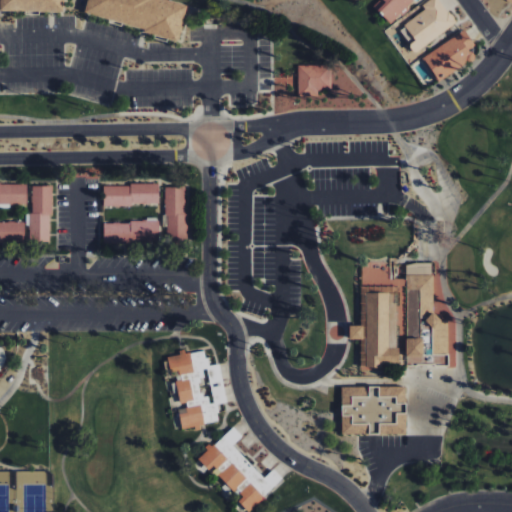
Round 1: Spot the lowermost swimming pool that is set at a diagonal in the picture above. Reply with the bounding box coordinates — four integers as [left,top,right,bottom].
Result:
[412,60,434,84]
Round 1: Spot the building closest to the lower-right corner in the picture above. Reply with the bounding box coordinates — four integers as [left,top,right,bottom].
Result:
[342,386,408,436]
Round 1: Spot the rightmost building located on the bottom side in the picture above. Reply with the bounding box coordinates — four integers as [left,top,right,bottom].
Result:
[406,263,450,366]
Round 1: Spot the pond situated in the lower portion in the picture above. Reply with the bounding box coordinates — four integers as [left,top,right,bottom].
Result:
[474,306,512,386]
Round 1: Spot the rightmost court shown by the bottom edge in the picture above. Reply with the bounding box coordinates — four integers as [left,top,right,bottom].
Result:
[16,471,52,512]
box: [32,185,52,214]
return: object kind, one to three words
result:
building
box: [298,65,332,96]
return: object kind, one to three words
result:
house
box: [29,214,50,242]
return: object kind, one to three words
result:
building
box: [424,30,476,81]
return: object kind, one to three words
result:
house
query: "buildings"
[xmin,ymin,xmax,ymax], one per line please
[0,222,24,243]
[168,214,188,240]
[84,0,187,42]
[103,223,130,242]
[130,183,160,206]
[198,426,284,512]
[32,185,52,214]
[29,214,50,242]
[168,350,226,431]
[374,0,417,24]
[103,186,130,208]
[131,221,160,241]
[406,263,450,366]
[166,187,186,214]
[0,184,26,206]
[298,65,332,96]
[0,0,64,14]
[342,386,408,436]
[424,30,476,81]
[406,0,459,52]
[362,291,404,370]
